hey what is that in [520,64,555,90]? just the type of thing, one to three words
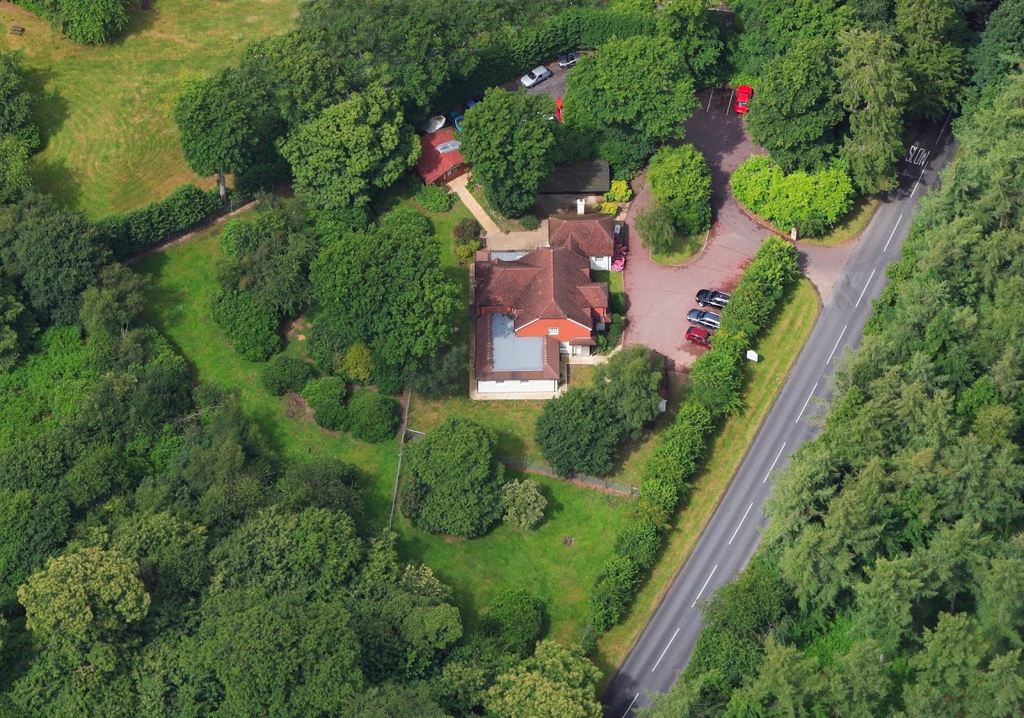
vehicle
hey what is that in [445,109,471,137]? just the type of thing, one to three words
car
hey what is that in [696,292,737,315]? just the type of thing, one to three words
car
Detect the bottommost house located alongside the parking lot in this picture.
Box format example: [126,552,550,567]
[476,194,614,393]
